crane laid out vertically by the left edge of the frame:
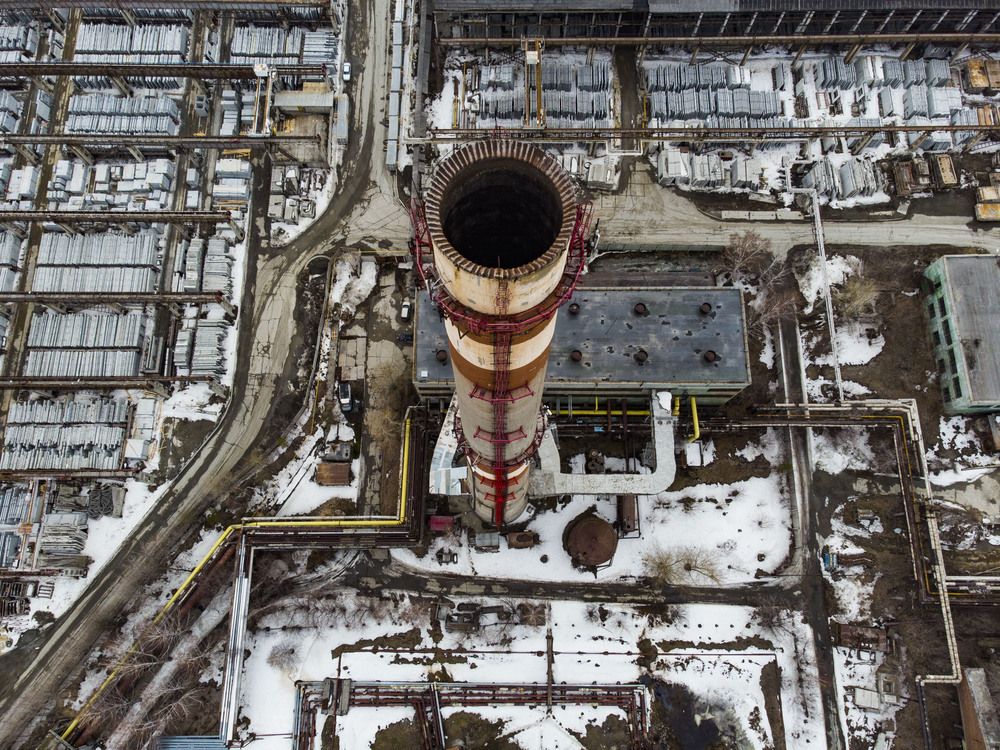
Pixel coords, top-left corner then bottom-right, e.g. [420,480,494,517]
[11,470,63,576]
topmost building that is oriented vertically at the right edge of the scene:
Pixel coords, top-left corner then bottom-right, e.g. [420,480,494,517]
[923,256,1000,411]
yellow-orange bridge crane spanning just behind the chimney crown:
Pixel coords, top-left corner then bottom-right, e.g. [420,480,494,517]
[521,36,546,133]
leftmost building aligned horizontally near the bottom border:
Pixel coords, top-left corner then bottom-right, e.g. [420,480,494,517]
[513,717,585,750]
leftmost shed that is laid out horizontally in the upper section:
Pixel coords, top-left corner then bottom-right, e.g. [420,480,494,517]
[273,91,336,118]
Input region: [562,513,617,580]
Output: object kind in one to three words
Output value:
storage tank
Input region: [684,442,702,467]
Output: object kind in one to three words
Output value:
building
